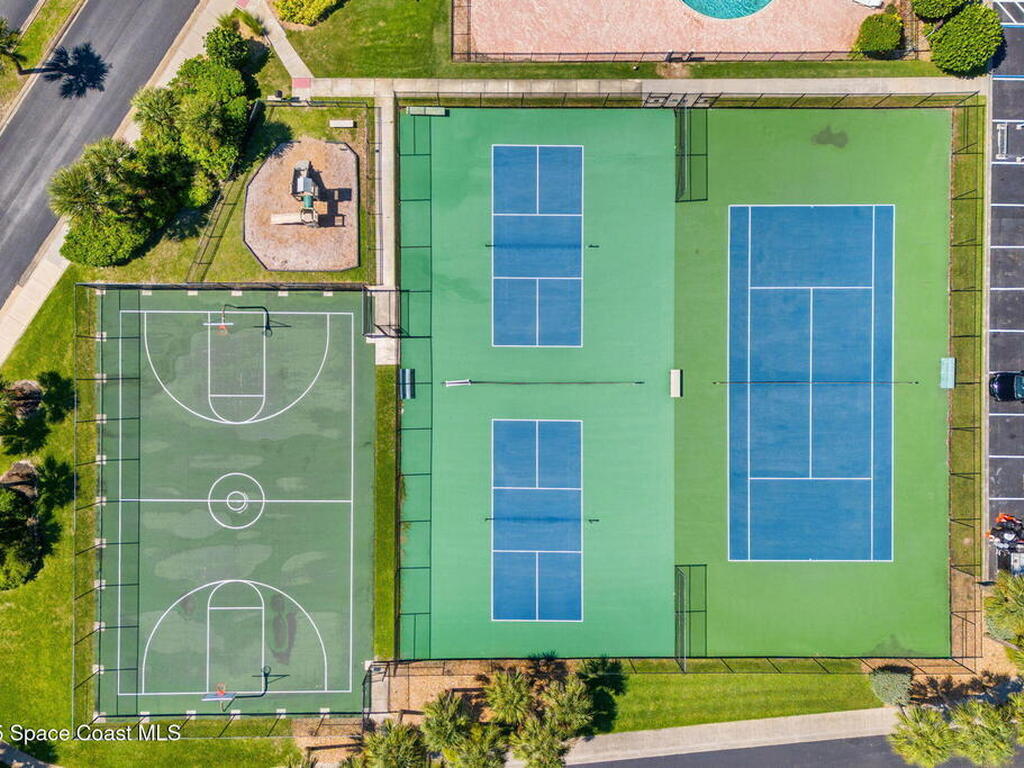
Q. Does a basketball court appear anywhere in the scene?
Yes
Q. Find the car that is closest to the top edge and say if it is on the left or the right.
right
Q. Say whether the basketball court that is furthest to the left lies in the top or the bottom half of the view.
bottom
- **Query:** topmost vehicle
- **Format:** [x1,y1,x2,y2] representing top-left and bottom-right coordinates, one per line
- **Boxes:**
[988,370,1024,404]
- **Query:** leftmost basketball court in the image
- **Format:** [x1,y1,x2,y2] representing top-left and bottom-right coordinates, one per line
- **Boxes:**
[96,287,376,718]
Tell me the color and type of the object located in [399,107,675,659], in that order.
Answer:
green sports court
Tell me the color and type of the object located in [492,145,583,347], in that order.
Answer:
blue sports court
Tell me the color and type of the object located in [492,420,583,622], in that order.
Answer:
blue sports court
